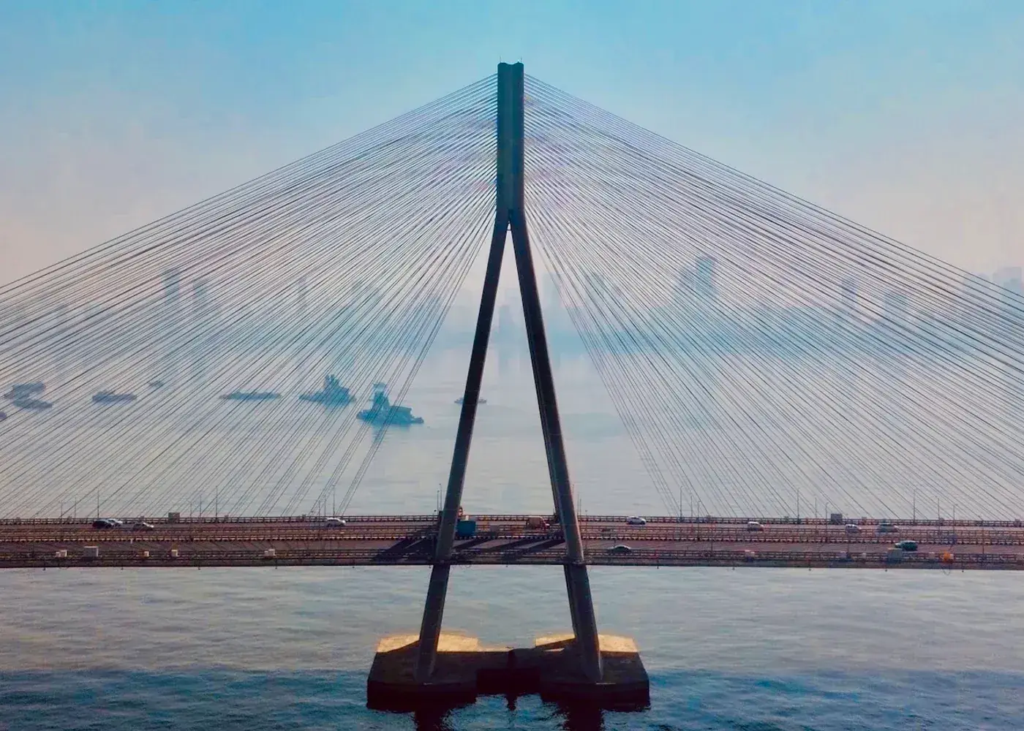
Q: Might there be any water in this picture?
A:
Yes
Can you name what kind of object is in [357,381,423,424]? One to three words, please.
ship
